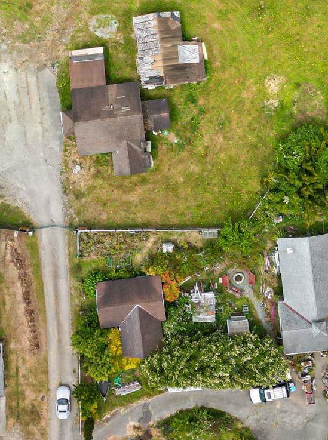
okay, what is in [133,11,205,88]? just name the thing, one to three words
barn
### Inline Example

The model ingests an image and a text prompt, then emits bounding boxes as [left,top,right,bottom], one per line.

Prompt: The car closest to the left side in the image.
[55,385,72,420]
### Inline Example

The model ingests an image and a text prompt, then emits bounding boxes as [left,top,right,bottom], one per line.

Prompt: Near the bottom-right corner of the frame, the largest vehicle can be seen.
[251,384,290,404]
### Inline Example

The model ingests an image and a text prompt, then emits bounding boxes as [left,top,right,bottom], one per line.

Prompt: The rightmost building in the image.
[278,232,328,355]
